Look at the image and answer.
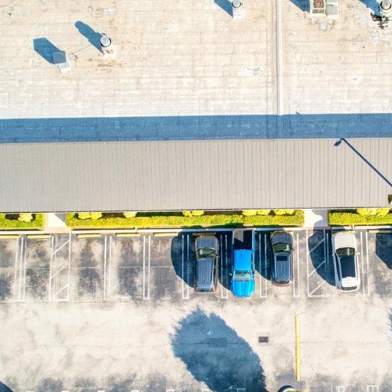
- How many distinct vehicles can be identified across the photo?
three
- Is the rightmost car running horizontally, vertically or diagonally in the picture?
vertically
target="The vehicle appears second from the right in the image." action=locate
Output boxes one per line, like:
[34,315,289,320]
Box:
[228,228,257,299]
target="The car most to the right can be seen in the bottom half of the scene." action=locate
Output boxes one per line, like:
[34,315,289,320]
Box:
[267,230,296,289]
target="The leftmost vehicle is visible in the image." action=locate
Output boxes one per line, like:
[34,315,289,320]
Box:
[192,233,220,296]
